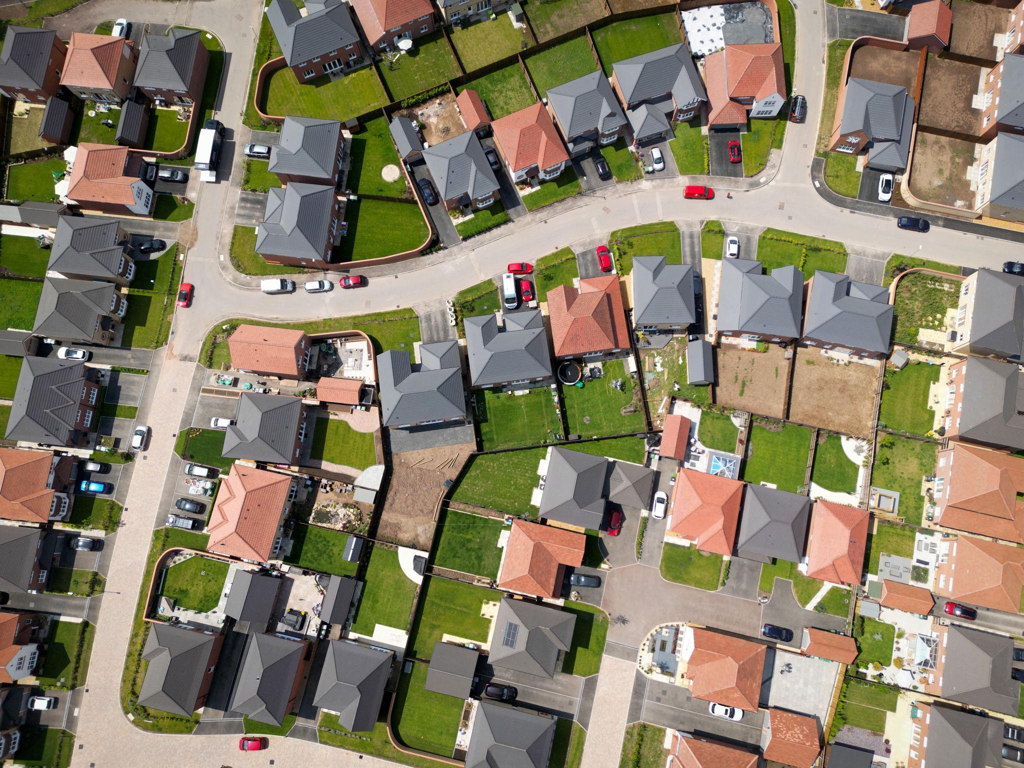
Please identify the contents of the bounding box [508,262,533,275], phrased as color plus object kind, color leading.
red vehicle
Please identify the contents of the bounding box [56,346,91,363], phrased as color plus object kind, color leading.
white car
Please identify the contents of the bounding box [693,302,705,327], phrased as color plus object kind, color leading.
black vehicle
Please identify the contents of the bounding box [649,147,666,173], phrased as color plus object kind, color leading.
white car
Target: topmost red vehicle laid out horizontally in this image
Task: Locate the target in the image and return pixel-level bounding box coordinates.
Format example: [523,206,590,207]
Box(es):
[683,184,714,200]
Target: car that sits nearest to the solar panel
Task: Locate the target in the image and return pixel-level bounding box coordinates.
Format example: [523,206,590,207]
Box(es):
[485,683,518,703]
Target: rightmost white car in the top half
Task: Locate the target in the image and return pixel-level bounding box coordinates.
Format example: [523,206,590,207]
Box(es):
[877,172,894,203]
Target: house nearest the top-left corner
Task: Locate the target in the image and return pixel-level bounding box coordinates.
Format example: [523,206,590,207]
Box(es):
[0,26,69,104]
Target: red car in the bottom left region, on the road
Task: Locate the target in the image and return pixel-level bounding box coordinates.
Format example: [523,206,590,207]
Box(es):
[238,736,267,752]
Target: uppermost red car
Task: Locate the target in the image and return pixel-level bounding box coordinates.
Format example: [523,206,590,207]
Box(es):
[729,141,742,164]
